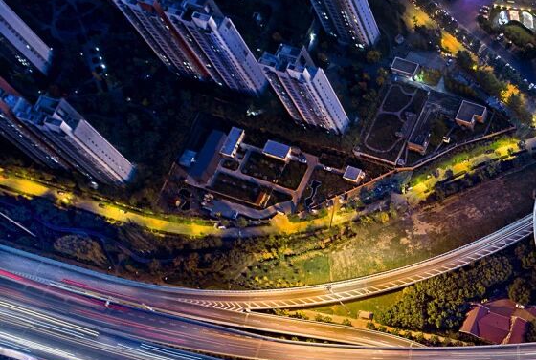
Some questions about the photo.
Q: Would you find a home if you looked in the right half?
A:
Yes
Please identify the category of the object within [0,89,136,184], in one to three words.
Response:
building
